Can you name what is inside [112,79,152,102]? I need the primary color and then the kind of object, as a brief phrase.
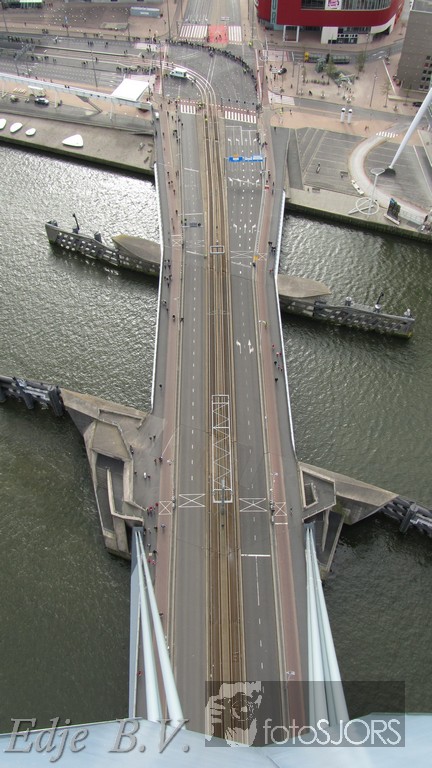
white tent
